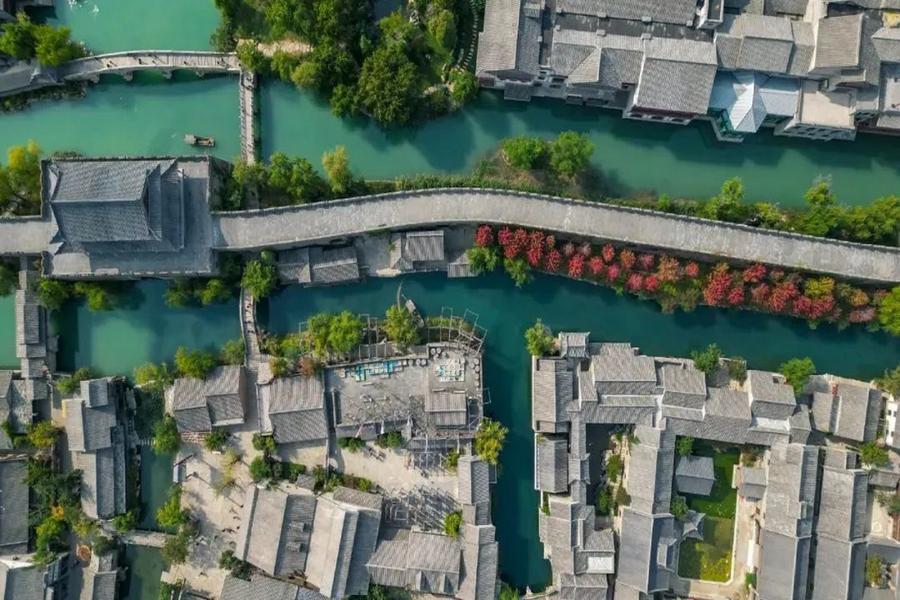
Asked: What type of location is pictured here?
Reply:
residential area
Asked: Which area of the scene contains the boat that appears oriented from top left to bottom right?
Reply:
center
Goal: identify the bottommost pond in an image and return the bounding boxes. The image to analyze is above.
[678,516,737,583]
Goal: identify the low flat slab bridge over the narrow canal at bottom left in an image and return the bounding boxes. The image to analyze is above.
[115,530,177,548]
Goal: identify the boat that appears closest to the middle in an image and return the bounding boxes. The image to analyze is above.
[403,290,425,327]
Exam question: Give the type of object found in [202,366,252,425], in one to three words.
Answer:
house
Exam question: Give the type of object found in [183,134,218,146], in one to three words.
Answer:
boat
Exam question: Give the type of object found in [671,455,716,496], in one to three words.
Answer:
building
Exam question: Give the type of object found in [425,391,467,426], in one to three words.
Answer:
shed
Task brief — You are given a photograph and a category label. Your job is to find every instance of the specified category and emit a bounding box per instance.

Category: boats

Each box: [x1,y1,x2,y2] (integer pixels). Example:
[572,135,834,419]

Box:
[183,134,218,146]
[403,290,425,327]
